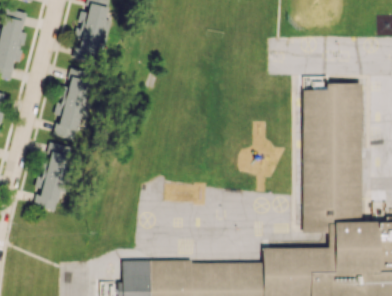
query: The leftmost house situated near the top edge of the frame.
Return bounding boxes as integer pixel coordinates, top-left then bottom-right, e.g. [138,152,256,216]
[0,10,28,81]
